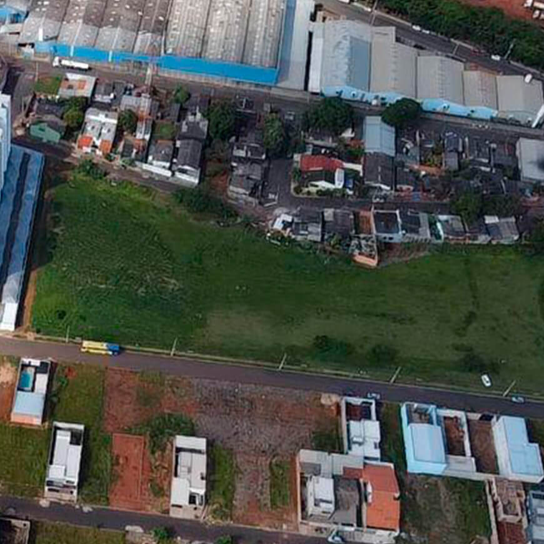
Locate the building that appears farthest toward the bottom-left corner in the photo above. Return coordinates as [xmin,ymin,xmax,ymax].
[45,421,84,504]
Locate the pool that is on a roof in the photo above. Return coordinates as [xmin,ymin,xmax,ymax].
[21,369,34,387]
